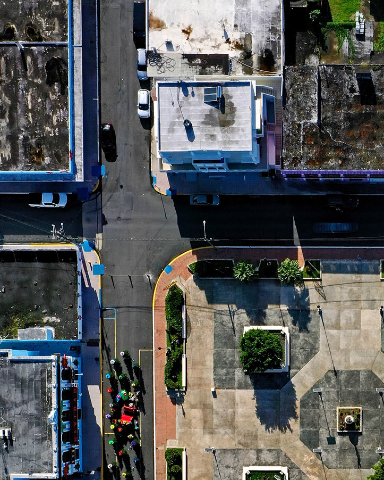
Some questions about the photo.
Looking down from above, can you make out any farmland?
No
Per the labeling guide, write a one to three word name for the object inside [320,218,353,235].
car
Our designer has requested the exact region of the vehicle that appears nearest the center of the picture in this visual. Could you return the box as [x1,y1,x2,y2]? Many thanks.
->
[191,193,222,209]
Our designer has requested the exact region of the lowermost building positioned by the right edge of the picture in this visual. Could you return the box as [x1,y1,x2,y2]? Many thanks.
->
[281,64,384,193]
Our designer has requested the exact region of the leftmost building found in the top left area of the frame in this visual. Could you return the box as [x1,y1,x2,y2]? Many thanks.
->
[0,0,84,183]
